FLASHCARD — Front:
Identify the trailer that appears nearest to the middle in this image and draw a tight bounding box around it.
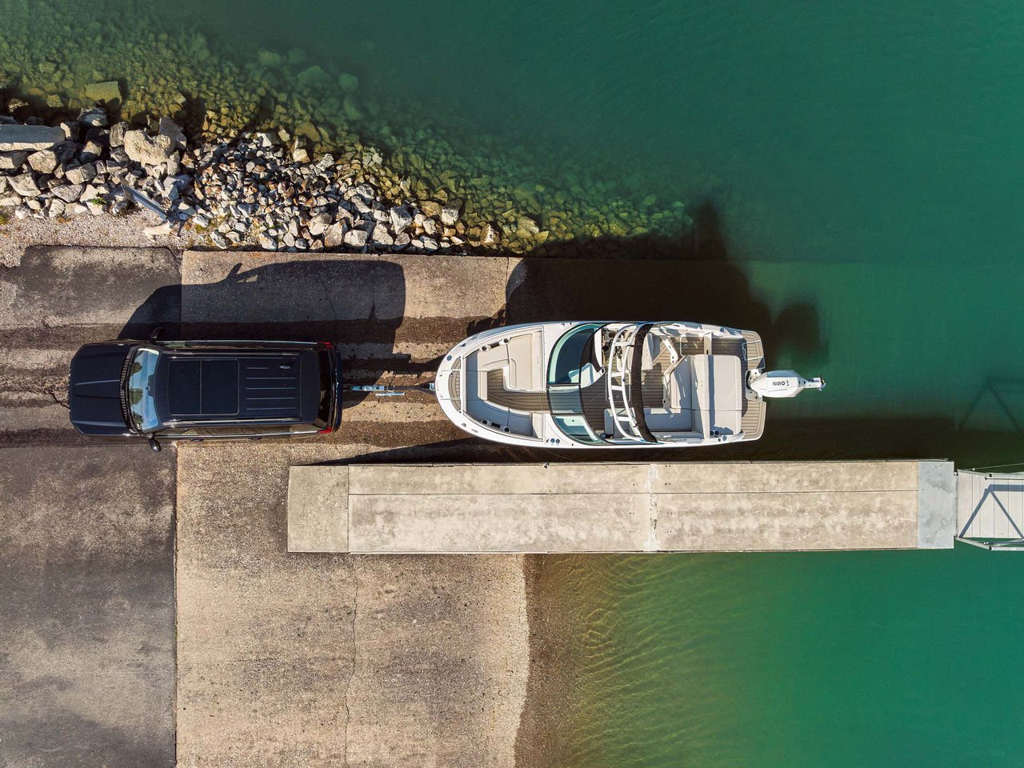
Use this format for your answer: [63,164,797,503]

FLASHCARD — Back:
[349,378,438,401]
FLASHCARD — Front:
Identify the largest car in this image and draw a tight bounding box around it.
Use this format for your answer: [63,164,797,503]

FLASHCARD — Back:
[68,326,346,454]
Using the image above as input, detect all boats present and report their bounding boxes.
[434,319,829,450]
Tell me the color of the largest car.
black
